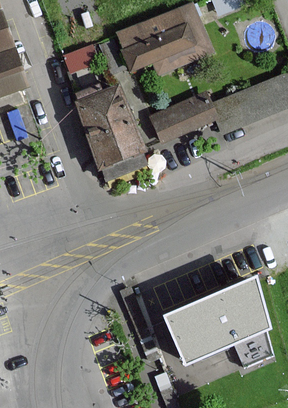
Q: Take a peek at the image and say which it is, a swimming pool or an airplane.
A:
swimming pool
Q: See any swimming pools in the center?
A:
No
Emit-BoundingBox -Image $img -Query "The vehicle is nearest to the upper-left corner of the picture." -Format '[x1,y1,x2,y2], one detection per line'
[28,0,42,17]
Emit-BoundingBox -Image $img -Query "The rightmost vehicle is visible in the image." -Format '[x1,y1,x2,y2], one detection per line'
[262,246,276,268]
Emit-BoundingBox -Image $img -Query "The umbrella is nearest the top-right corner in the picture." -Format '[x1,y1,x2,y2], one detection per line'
[148,154,166,172]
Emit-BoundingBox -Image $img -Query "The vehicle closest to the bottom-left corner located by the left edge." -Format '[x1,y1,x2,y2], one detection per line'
[6,356,28,370]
